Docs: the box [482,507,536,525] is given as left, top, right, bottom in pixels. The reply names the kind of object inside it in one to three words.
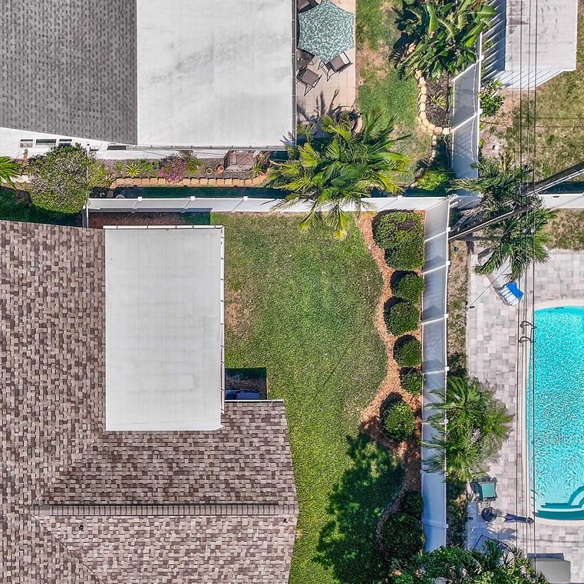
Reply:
umbrella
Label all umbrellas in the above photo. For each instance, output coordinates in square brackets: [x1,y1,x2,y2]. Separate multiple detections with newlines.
[295,0,356,64]
[482,507,536,525]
